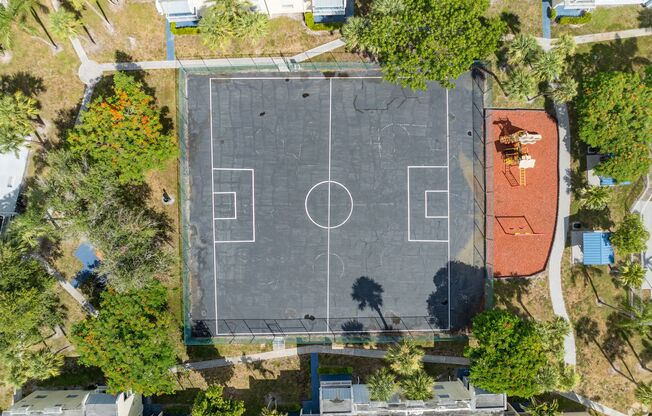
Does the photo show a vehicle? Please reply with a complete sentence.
No, the scene contains no vehicle.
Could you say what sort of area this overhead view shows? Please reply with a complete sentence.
This looks like a sports ground.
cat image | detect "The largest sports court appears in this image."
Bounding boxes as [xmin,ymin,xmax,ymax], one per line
[187,71,487,338]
